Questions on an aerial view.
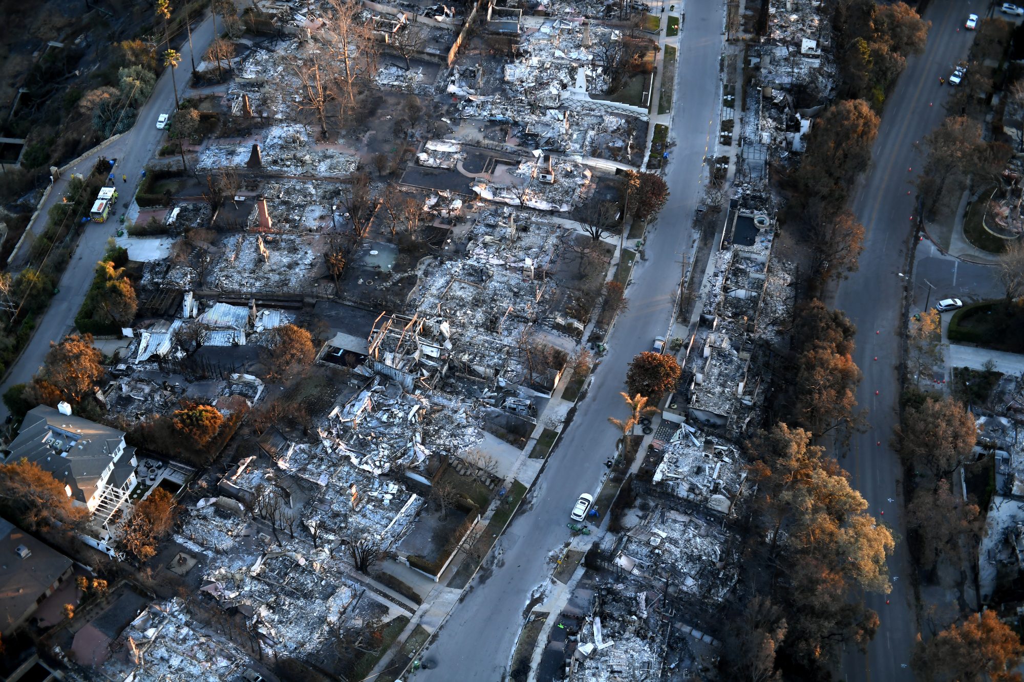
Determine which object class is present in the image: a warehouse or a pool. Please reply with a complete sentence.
There is a pool in the scene.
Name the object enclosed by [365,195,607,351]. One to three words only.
house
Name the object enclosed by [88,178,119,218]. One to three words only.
truck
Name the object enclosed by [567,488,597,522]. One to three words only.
car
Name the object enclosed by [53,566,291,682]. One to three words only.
house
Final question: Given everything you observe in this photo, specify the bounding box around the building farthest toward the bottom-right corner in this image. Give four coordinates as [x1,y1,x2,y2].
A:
[974,504,1024,591]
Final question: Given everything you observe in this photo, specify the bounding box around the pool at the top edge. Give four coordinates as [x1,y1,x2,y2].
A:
[486,19,522,32]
